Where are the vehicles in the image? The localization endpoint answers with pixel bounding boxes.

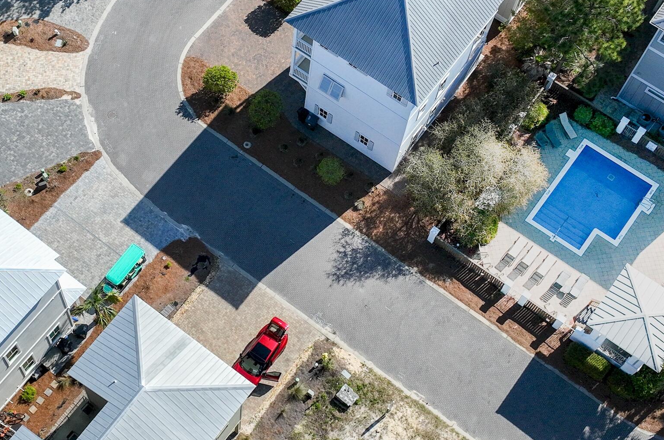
[102,243,147,300]
[232,313,290,387]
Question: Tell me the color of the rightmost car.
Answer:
red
